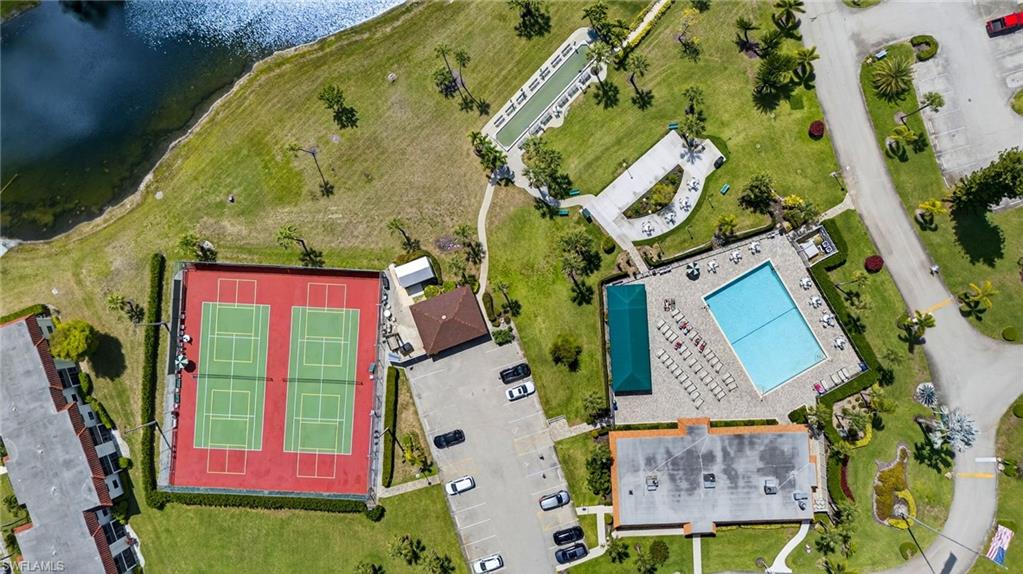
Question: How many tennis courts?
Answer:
2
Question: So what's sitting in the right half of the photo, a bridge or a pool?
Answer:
pool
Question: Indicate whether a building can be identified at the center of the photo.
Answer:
Yes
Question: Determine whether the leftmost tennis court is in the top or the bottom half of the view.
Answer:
bottom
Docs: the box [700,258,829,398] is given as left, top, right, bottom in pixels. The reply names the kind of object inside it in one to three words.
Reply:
swimming pool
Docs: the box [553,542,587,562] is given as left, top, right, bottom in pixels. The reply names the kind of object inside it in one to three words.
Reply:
car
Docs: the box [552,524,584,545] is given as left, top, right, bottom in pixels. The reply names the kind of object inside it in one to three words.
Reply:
car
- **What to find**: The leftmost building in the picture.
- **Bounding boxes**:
[0,314,133,574]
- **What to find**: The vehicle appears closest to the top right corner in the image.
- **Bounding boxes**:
[981,9,1023,33]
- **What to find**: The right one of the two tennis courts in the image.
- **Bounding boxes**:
[273,269,382,494]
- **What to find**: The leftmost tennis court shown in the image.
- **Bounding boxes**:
[174,266,283,490]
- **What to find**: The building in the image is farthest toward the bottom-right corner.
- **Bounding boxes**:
[609,417,817,536]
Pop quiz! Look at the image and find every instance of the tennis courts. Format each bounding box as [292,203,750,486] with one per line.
[174,266,283,490]
[273,269,382,494]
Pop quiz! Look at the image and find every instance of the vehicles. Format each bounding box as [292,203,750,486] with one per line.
[538,488,570,508]
[446,475,476,494]
[552,524,584,545]
[499,363,531,382]
[474,553,504,572]
[981,9,1023,33]
[434,428,466,447]
[505,382,535,400]
[553,542,587,562]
